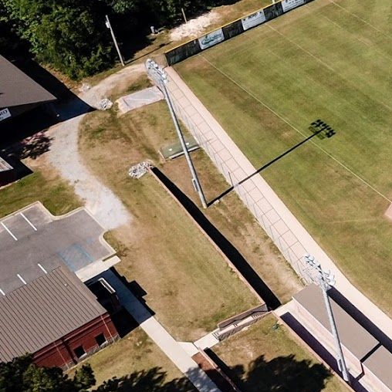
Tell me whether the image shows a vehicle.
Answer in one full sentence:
No, no vehicle can be seen from above.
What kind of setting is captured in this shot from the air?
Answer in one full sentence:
This looks like a sports ground.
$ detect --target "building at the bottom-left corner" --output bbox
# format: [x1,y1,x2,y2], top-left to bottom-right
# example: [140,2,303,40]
[0,264,122,392]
